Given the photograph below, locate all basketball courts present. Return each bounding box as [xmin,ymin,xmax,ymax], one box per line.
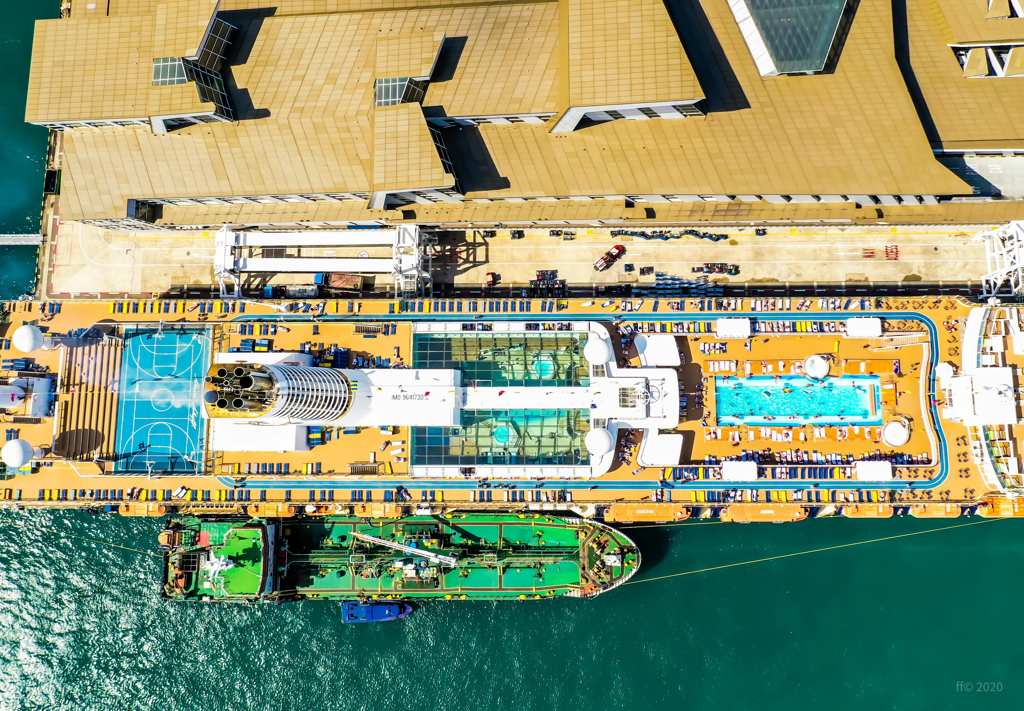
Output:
[59,316,222,481]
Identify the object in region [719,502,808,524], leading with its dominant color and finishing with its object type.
orange boat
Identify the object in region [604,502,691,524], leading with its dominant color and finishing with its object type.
orange boat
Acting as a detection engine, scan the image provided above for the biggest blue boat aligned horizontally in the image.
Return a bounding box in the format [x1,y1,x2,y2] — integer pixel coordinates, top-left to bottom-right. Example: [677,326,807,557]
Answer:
[340,600,413,625]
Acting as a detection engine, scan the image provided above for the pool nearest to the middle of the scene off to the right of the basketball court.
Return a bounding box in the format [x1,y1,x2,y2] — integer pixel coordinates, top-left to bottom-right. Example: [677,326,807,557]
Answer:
[490,409,560,422]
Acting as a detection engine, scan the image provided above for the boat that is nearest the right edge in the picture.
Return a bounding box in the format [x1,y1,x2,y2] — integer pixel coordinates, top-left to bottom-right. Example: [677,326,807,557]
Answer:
[972,496,1024,517]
